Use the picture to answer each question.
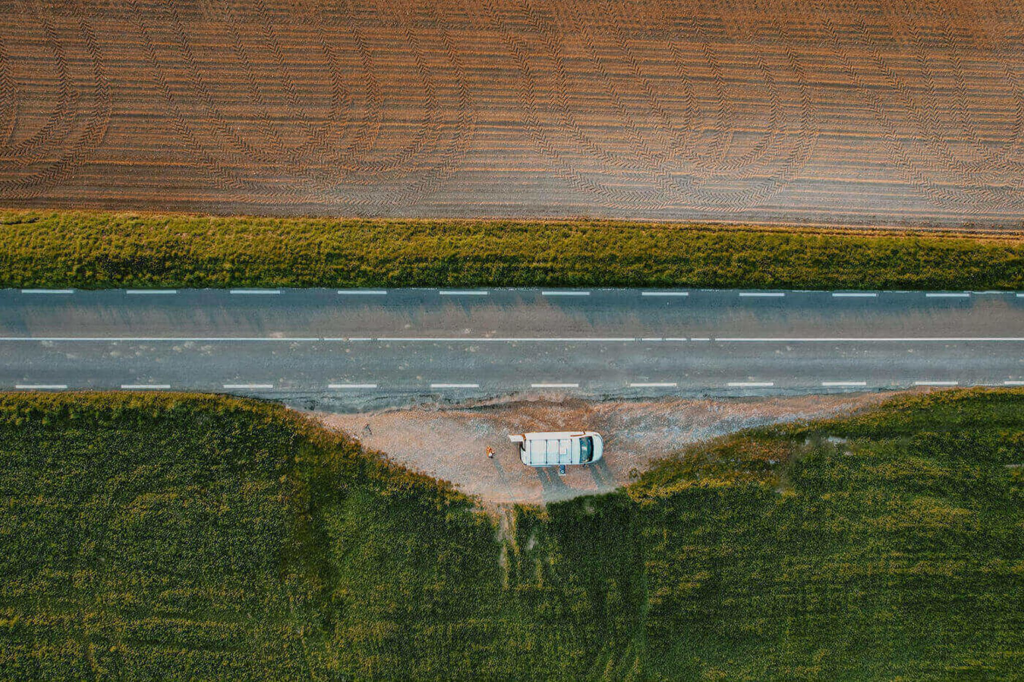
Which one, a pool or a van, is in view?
van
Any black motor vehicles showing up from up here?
No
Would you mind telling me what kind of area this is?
farmland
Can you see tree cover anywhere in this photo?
No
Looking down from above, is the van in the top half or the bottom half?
bottom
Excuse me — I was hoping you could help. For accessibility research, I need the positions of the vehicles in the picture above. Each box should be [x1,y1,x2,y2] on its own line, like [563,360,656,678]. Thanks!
[509,431,605,469]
